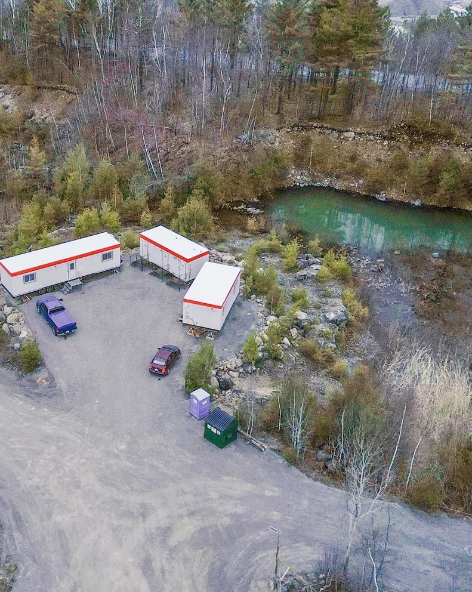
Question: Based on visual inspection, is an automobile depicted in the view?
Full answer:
Yes, the picture does show an automobile.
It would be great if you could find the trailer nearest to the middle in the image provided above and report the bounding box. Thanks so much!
[183,260,243,335]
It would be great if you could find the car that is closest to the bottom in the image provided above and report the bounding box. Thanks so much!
[149,345,179,380]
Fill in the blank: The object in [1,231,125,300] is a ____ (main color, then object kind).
white trailer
